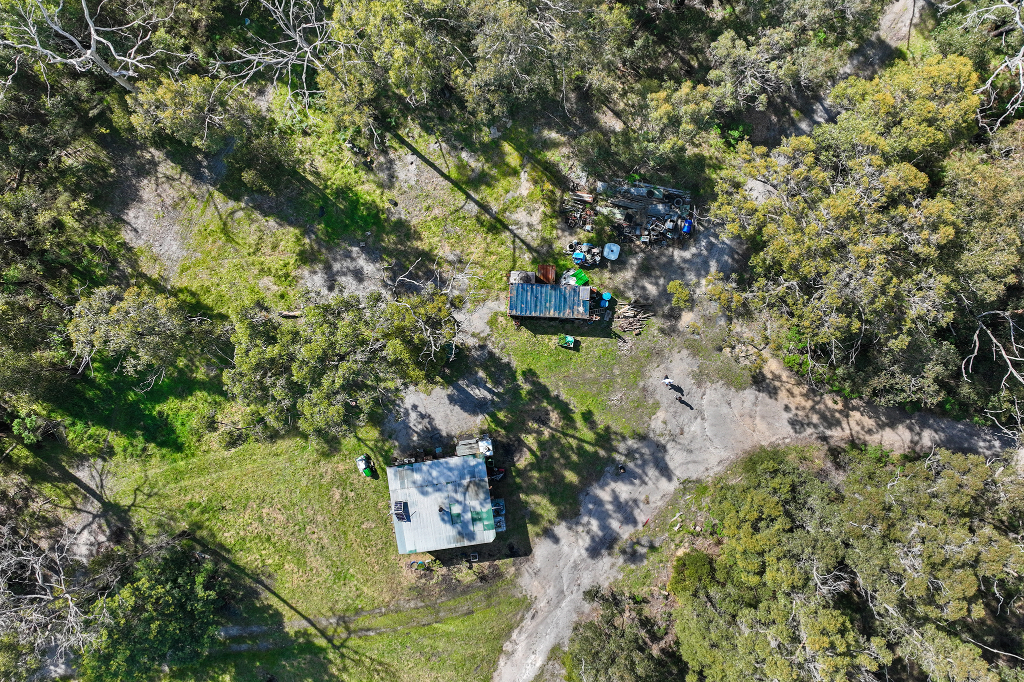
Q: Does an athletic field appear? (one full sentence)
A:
No, the frame has no athletic field in it.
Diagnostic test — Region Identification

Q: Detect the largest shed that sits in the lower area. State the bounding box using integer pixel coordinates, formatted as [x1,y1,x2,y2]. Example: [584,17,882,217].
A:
[386,451,496,554]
